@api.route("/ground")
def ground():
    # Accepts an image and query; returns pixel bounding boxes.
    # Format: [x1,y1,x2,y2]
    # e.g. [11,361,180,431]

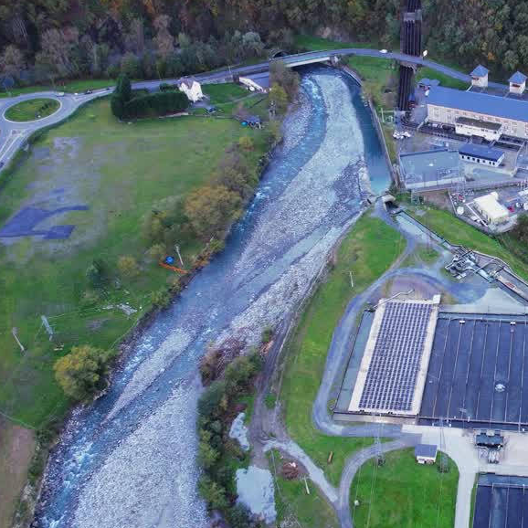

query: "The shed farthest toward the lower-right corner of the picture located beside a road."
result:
[414,443,440,465]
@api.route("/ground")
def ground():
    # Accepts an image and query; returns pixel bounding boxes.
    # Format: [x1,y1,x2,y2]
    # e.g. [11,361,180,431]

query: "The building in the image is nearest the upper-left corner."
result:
[177,73,205,99]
